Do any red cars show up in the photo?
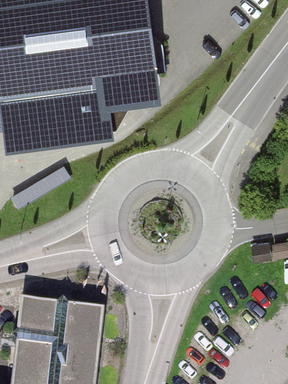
Yes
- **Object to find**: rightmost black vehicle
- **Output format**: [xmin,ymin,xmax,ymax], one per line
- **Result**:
[258,280,278,299]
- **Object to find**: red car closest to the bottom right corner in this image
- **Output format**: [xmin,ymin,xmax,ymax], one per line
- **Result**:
[208,348,230,366]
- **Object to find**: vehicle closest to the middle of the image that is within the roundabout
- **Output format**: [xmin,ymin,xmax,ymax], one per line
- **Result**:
[109,241,122,264]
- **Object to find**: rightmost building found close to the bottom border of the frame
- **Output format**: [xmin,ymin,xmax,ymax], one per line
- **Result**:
[11,288,104,384]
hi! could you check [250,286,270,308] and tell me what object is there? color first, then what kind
red car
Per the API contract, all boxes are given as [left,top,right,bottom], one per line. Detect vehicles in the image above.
[178,358,197,378]
[250,286,270,308]
[200,314,219,336]
[186,345,204,364]
[202,38,220,57]
[210,300,228,322]
[208,348,230,366]
[240,0,261,19]
[229,8,249,30]
[197,372,216,384]
[245,298,266,318]
[194,330,213,352]
[220,284,236,308]
[205,360,226,379]
[212,334,234,355]
[7,262,28,272]
[254,0,268,8]
[109,241,122,264]
[230,275,248,298]
[258,280,278,299]
[221,324,242,344]
[240,310,259,328]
